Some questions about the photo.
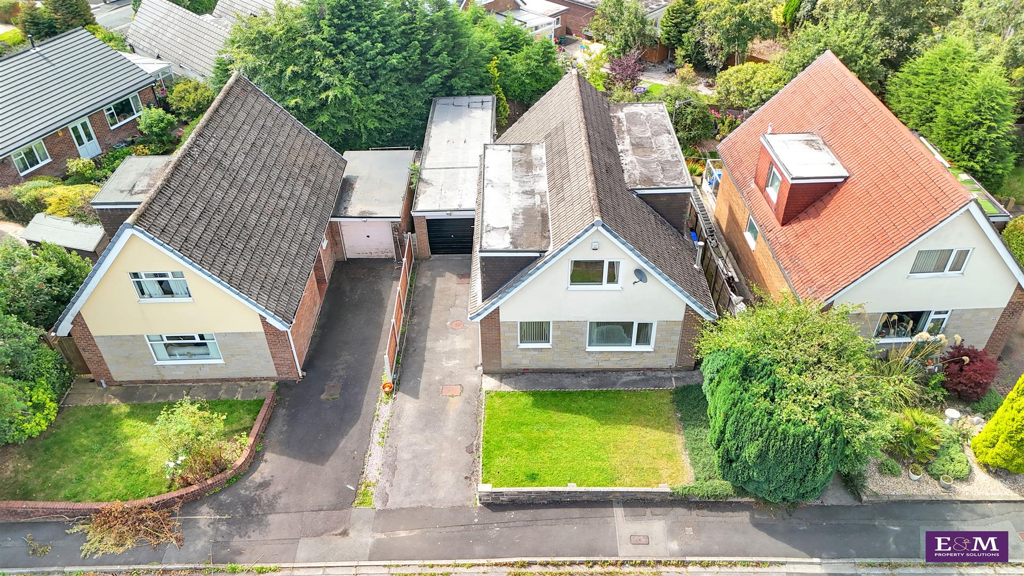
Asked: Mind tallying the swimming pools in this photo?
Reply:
0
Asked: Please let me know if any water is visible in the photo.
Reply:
No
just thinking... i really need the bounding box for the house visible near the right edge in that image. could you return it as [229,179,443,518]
[719,52,1024,361]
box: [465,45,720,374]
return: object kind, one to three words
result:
house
